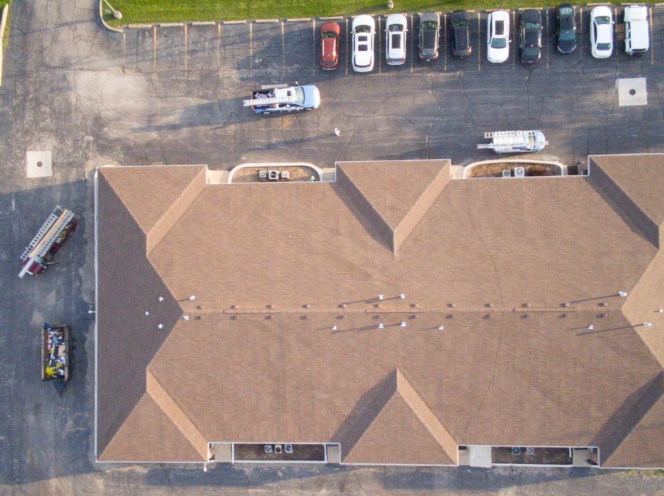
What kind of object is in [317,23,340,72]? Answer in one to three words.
car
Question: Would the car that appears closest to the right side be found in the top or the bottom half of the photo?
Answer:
top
